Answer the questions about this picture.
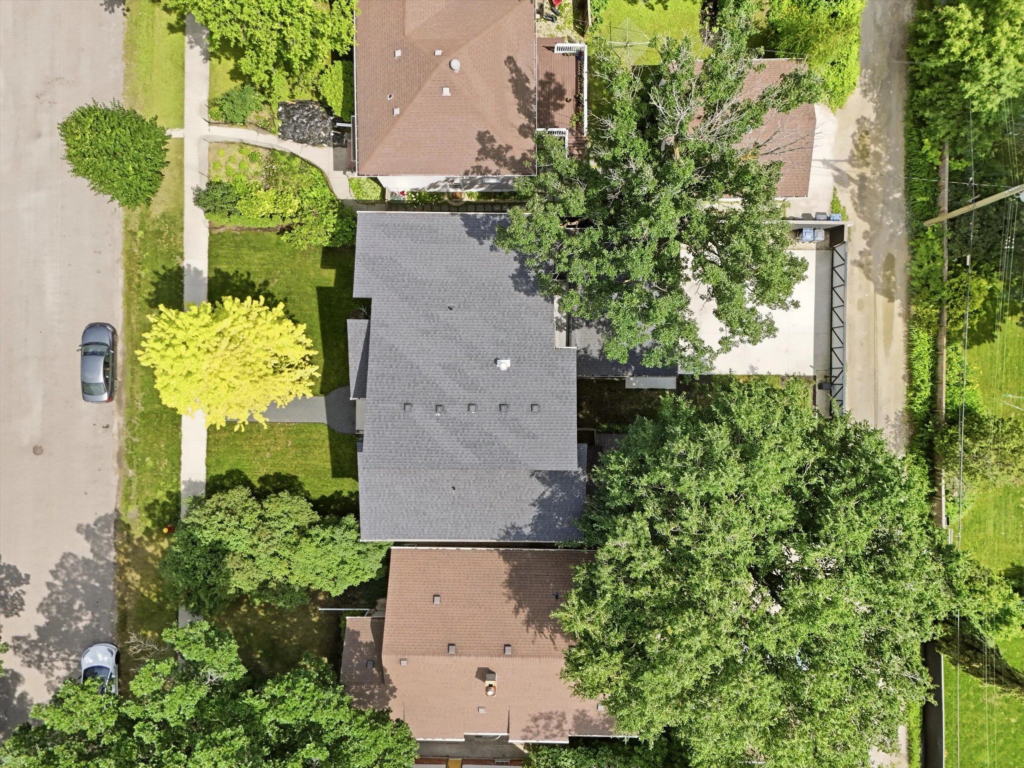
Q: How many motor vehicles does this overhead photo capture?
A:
2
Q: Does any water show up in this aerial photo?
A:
No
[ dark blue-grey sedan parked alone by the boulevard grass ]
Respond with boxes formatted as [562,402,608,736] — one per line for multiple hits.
[76,323,120,402]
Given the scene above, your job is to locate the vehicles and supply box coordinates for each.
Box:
[76,323,120,402]
[76,647,121,712]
